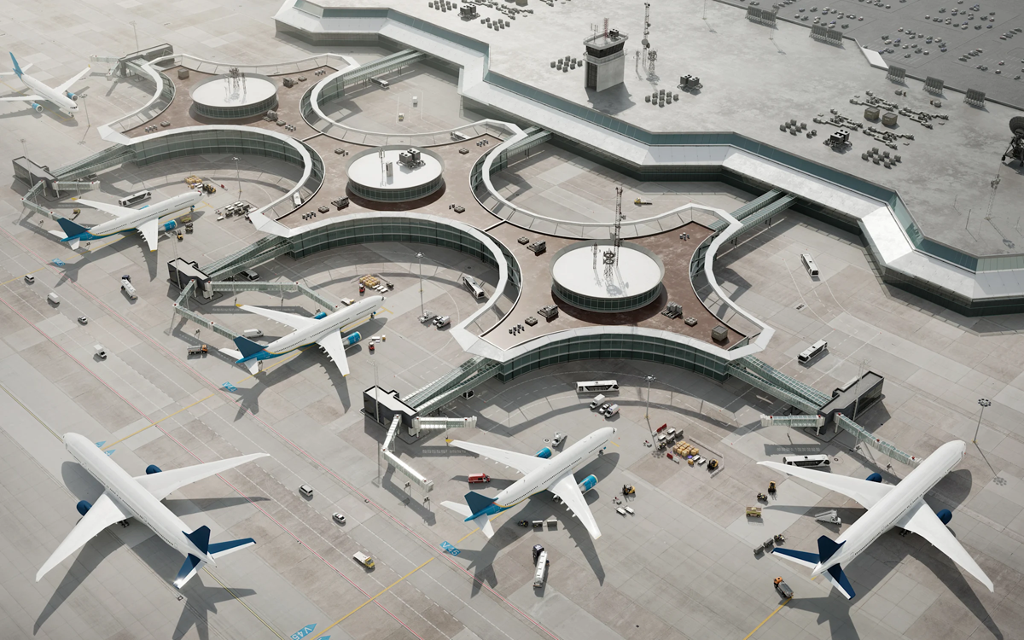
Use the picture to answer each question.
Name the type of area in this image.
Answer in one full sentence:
This image shows an airport.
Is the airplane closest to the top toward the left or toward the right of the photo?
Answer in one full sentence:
The airplane closest to the top appears in the left half of the scene.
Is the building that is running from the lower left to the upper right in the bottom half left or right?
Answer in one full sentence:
The building that is running from the lower left to the upper right in the bottom half is on the right side of the image.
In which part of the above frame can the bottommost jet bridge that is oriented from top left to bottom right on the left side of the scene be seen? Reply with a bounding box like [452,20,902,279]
[378,414,440,498]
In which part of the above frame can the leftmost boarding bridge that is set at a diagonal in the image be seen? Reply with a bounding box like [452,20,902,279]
[17,180,87,230]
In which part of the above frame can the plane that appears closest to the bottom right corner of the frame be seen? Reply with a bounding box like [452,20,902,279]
[757,440,991,598]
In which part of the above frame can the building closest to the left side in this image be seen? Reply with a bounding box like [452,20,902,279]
[13,158,70,202]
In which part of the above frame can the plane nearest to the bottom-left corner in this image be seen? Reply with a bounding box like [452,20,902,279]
[34,430,267,586]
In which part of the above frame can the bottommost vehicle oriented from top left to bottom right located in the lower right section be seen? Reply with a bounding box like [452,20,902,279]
[771,575,796,601]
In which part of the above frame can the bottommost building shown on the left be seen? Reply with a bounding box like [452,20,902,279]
[360,386,431,444]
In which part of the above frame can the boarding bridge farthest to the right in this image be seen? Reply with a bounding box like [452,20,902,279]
[836,413,928,469]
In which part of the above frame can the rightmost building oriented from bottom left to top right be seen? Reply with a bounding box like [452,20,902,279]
[804,373,886,443]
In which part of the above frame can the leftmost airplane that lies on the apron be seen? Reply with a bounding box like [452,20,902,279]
[0,52,91,115]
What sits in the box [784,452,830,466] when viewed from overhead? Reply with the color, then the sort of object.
white vehicle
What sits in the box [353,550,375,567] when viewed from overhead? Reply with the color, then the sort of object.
white vehicle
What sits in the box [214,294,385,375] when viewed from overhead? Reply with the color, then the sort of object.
white airplane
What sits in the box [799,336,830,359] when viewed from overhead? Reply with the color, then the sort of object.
white bus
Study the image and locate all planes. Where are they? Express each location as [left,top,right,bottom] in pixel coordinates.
[42,191,202,252]
[34,430,267,586]
[214,294,385,375]
[0,52,91,115]
[757,440,991,598]
[436,425,616,537]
